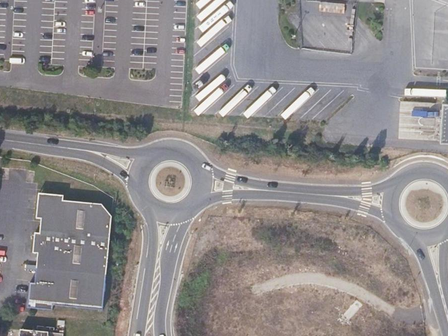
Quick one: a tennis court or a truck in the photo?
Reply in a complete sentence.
The one in the frame is a truck.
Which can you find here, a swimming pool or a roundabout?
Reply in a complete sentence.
I can see a roundabout in this picture.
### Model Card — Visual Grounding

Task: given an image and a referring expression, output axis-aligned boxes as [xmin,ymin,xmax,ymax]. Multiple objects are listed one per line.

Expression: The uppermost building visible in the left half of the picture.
[24,194,112,310]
